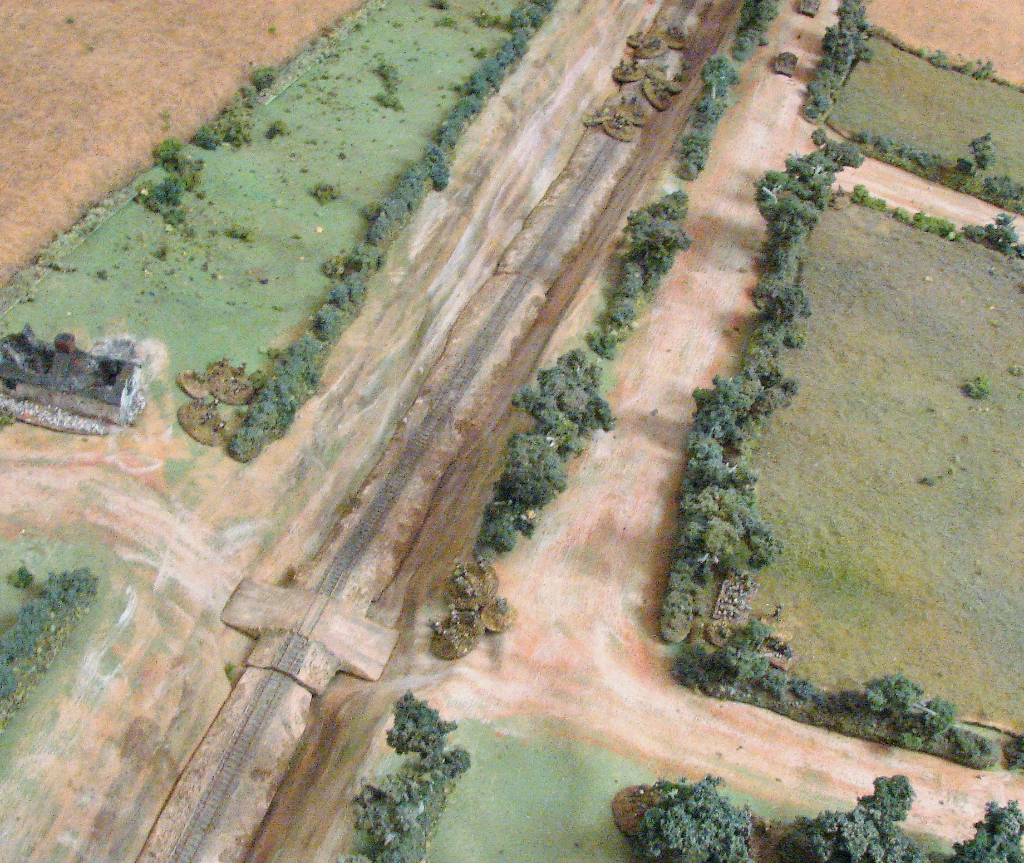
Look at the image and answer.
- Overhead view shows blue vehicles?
No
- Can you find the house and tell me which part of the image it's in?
left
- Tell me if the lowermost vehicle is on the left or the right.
right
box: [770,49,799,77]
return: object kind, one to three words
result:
vehicle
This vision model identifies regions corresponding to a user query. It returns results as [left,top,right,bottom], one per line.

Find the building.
[0,327,148,444]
